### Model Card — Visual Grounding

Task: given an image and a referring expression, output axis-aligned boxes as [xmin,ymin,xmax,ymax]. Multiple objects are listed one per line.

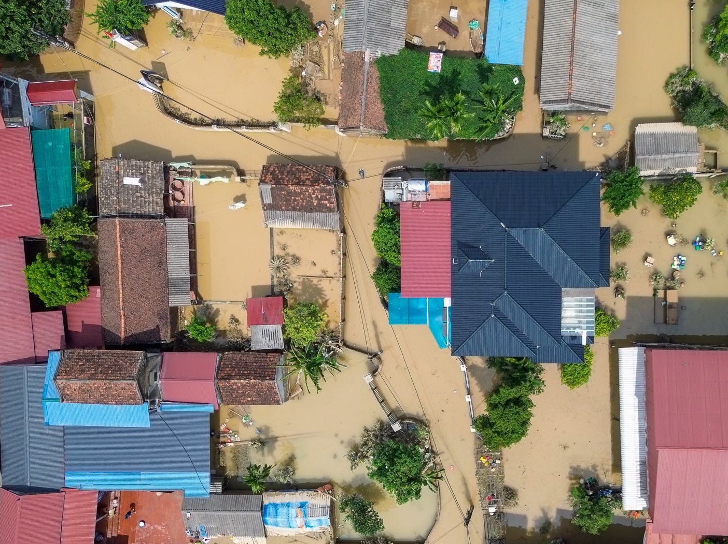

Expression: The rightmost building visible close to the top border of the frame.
[539,0,618,118]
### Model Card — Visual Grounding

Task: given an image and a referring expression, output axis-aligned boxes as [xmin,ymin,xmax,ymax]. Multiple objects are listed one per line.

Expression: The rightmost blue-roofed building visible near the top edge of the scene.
[484,0,528,67]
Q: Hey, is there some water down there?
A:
Yes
